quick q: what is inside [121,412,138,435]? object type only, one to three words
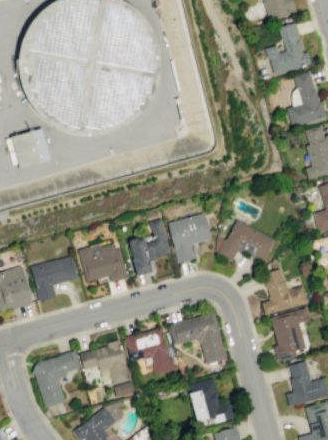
swimming pool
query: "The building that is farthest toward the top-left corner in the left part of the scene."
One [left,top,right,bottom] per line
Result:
[7,128,51,169]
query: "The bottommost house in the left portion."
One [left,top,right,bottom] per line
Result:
[73,400,124,440]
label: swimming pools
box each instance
[121,412,138,435]
[237,199,260,220]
